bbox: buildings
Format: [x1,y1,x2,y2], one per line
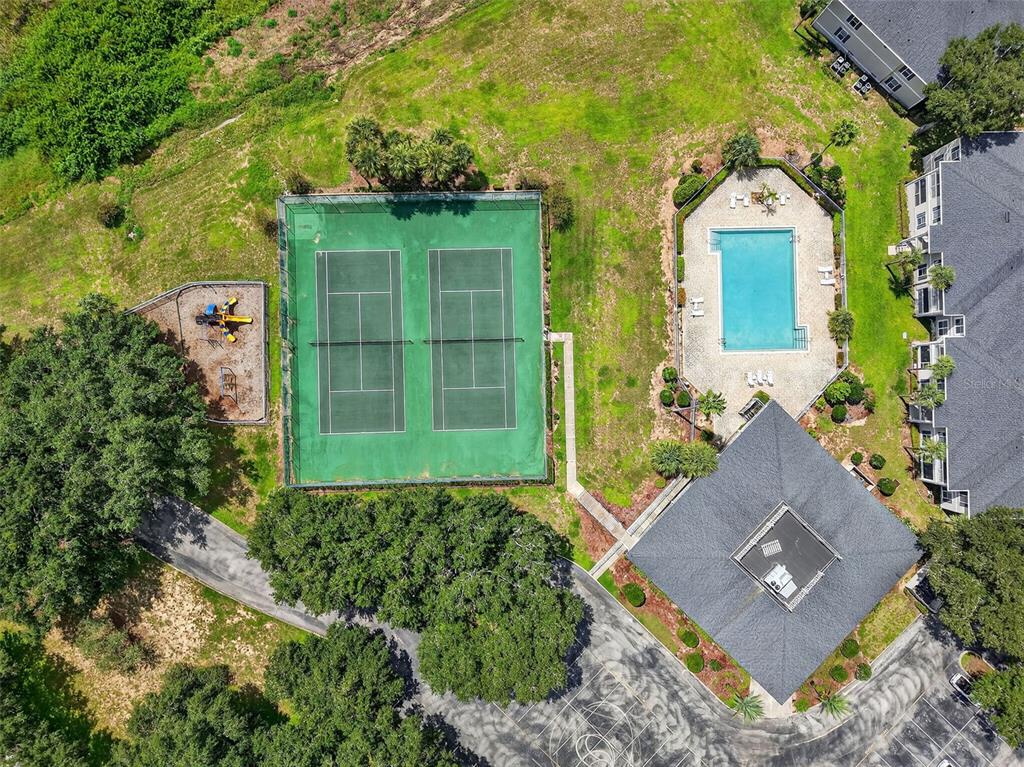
[896,131,1024,520]
[811,0,1020,110]
[626,399,923,705]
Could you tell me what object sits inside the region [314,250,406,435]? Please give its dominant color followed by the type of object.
green tennis court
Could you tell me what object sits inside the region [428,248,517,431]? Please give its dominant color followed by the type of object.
green tennis court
